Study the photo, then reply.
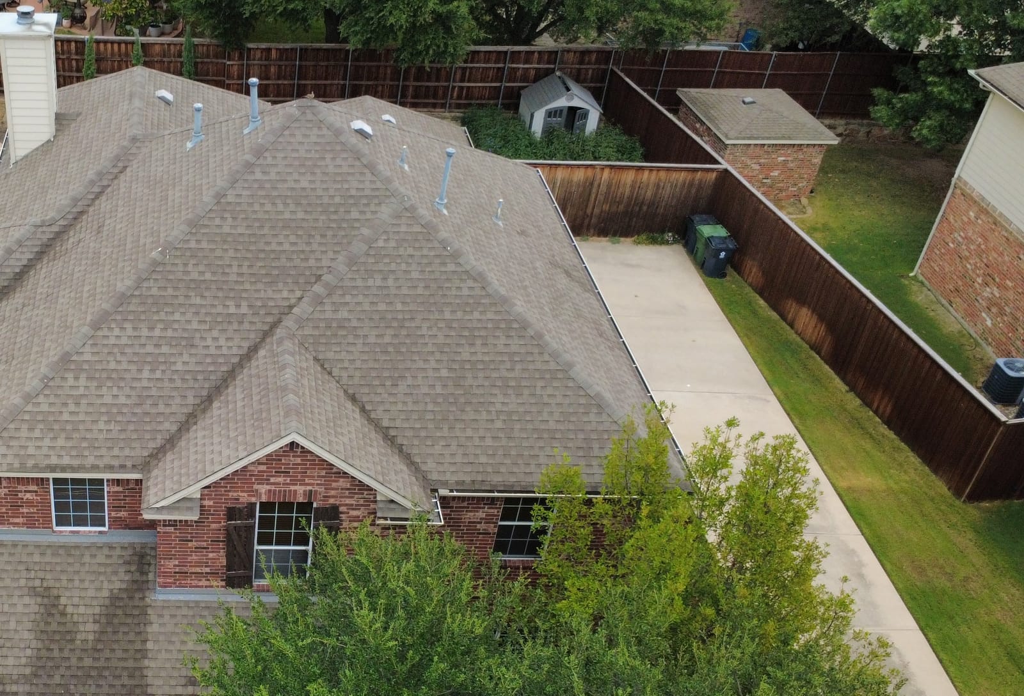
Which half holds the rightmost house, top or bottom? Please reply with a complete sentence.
The top half of the photo is where the rightmost house is.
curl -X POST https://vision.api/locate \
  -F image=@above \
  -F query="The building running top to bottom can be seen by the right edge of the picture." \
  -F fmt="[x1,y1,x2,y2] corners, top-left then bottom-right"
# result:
[903,60,1024,362]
